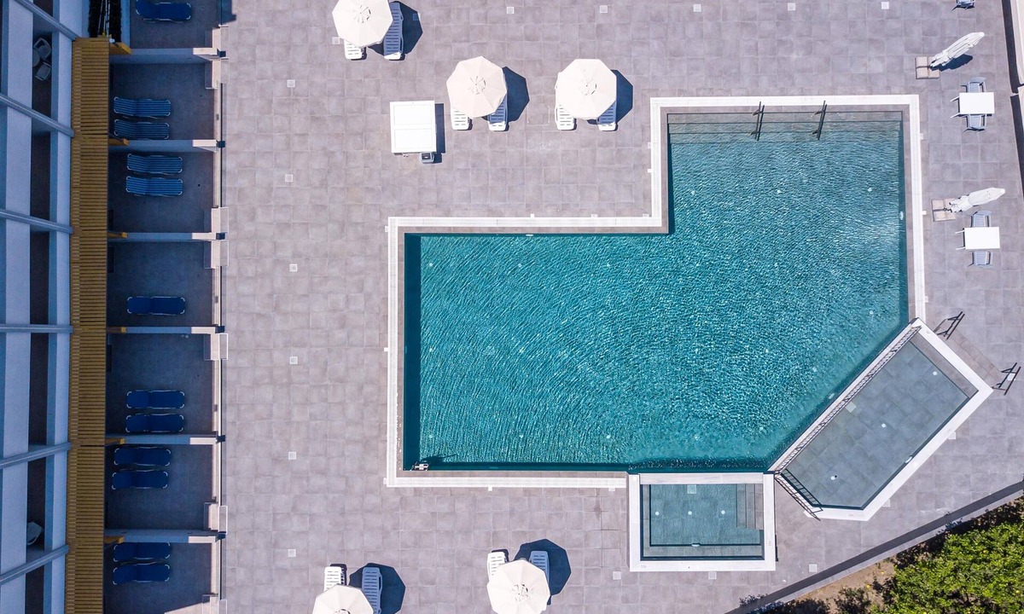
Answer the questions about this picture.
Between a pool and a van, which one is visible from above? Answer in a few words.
pool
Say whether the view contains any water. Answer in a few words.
Yes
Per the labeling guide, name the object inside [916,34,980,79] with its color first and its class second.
white umbrella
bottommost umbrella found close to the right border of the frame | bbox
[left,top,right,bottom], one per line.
[932,191,999,222]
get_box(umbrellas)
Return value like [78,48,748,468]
[446,57,508,119]
[916,34,980,79]
[332,0,394,48]
[558,60,616,118]
[932,191,999,222]
[488,556,550,614]
[314,582,374,614]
